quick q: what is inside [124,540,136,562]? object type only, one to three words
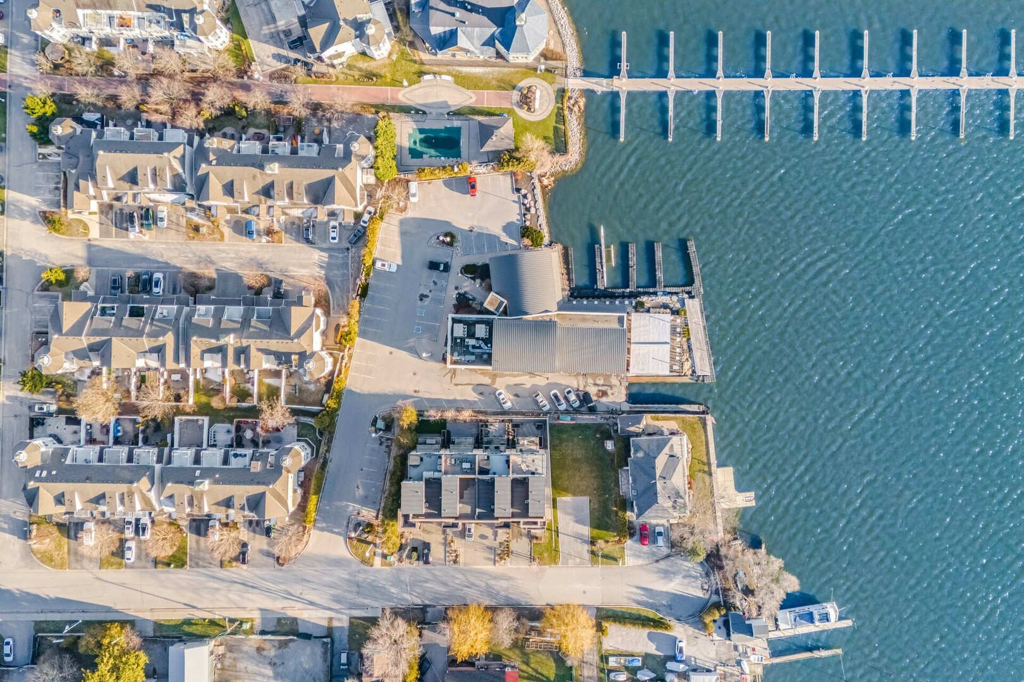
vehicle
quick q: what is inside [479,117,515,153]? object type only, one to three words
building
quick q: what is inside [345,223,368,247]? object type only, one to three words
vehicle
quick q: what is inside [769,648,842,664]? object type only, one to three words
pier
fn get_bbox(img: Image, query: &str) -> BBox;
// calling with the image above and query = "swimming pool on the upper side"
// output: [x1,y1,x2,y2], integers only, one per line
[400,121,468,165]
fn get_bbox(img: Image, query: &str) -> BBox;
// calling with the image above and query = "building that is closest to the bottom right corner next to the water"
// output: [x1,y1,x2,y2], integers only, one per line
[725,608,769,643]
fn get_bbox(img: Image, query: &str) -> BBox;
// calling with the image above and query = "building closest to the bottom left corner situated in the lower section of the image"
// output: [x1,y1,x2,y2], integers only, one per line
[168,637,218,682]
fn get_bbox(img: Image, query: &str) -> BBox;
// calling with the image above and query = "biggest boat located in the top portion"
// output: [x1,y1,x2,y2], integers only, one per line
[602,226,614,287]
